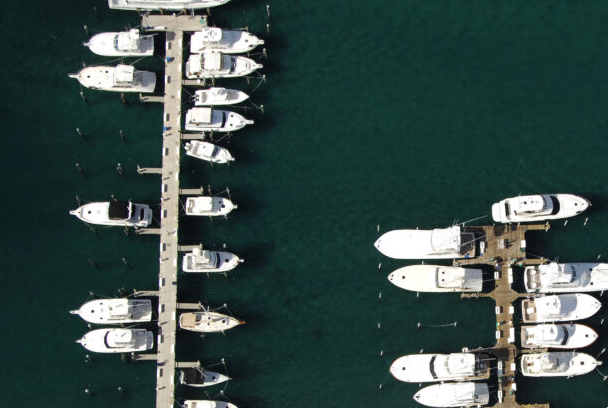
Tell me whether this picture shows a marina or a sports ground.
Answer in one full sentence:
The picture captures a marina.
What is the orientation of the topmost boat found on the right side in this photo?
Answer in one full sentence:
The topmost boat found on the right side is laid out horizontally.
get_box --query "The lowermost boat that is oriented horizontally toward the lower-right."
[413,377,494,408]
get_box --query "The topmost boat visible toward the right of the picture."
[490,194,590,224]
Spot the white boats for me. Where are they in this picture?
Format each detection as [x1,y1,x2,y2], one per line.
[183,82,249,107]
[381,257,498,295]
[517,263,608,292]
[69,292,159,325]
[185,193,238,219]
[68,198,161,229]
[383,345,512,384]
[176,400,237,408]
[490,194,590,224]
[182,137,235,163]
[517,345,605,379]
[75,322,154,356]
[180,307,246,333]
[374,217,496,261]
[180,252,245,276]
[183,52,264,81]
[180,20,265,55]
[509,319,603,349]
[413,377,494,408]
[82,25,162,60]
[521,292,602,324]
[185,106,253,135]
[66,60,164,97]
